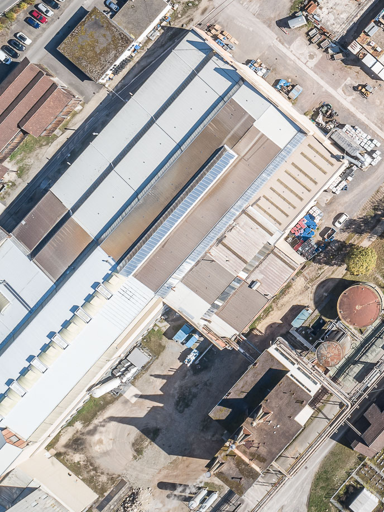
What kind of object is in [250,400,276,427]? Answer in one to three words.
chimney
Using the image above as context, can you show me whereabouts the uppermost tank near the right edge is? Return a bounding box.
[337,281,384,328]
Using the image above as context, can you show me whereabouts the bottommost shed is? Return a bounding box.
[349,483,381,512]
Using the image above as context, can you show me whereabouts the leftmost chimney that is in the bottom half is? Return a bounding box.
[204,440,239,478]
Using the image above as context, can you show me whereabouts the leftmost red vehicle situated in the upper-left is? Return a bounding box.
[29,9,49,25]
